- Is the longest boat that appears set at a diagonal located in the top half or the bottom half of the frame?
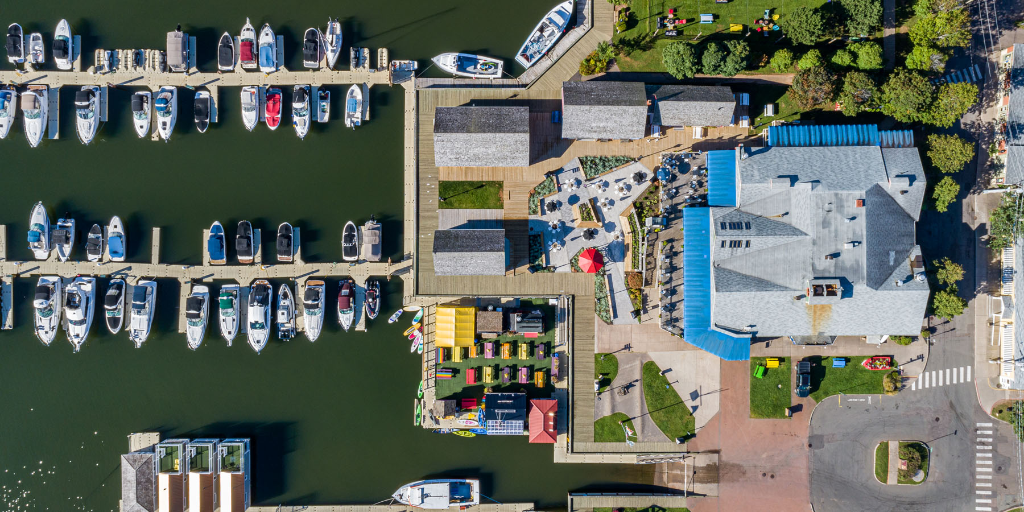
top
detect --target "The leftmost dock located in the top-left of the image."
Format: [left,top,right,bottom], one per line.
[0,35,391,141]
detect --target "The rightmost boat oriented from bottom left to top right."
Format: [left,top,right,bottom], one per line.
[513,1,572,72]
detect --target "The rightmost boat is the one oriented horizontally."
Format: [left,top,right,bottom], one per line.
[863,356,892,370]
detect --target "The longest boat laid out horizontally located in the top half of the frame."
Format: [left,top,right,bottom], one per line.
[422,55,504,81]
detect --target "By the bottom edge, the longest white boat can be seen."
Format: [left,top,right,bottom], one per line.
[373,480,502,510]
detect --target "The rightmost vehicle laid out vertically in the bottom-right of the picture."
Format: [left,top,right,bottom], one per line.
[794,360,812,398]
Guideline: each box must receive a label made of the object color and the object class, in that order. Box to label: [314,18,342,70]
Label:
white boat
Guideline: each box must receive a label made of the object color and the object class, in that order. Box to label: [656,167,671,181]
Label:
blue umbrella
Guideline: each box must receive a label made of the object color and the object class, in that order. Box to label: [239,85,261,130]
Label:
white boat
